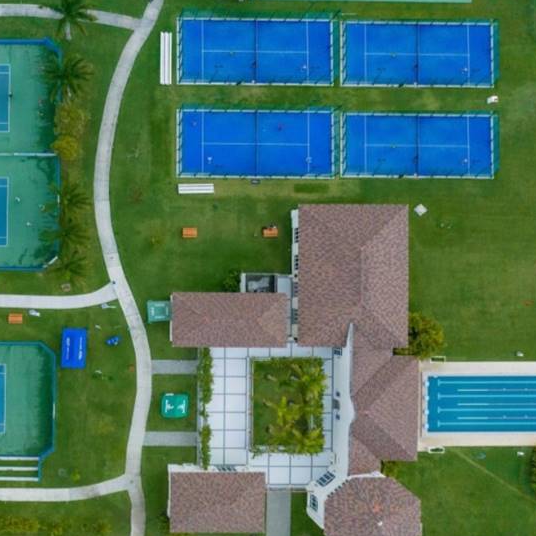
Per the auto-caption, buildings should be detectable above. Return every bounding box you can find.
[289,205,422,536]
[163,464,266,534]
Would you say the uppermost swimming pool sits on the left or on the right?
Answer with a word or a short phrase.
right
